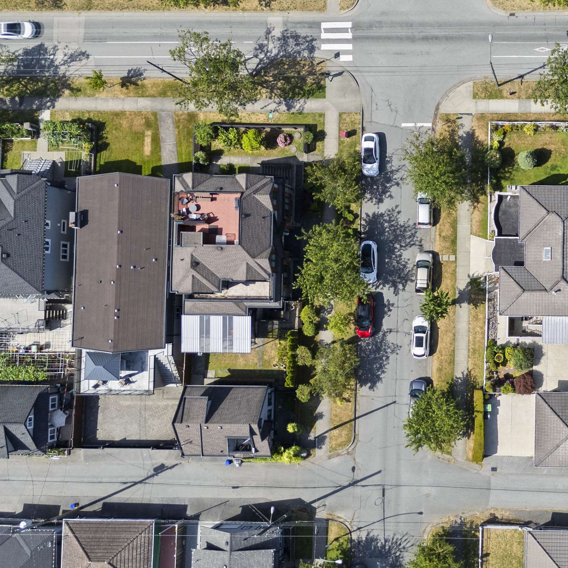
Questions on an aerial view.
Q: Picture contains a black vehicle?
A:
Yes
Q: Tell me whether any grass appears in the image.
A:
Yes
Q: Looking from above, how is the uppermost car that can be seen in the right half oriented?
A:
vertically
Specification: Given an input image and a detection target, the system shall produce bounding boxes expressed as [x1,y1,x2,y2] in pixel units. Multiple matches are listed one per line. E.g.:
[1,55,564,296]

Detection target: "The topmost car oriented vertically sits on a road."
[360,133,381,178]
